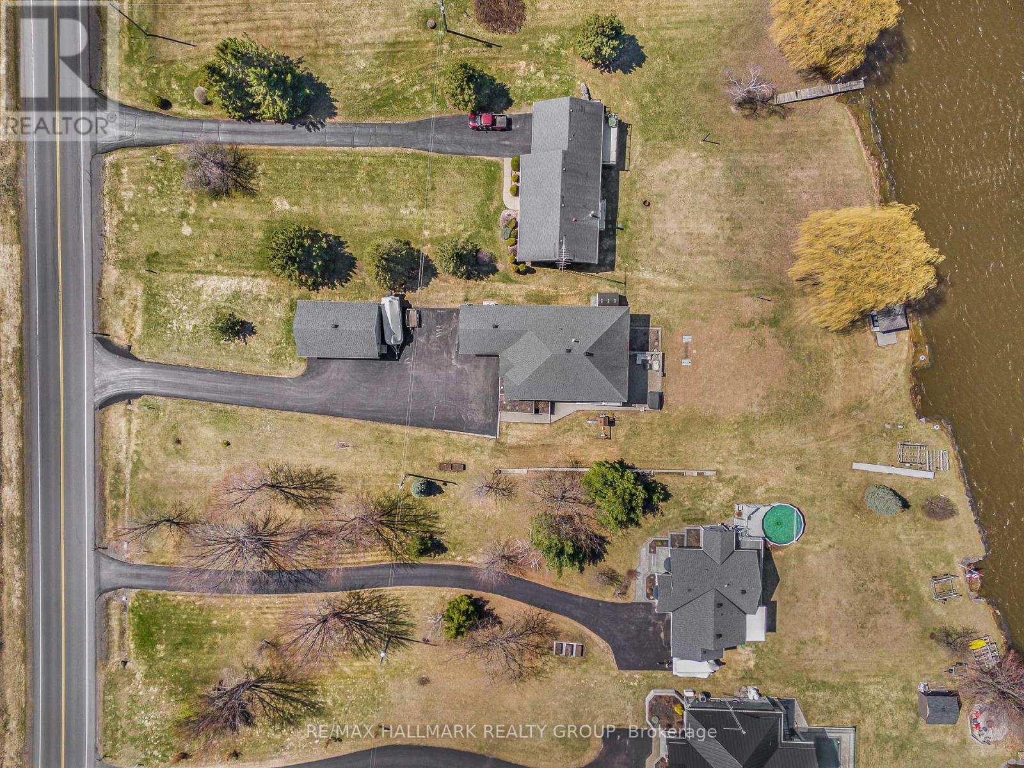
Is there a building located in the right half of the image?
Yes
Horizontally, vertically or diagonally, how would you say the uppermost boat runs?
vertically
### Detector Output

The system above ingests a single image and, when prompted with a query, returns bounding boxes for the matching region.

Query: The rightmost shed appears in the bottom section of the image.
[919,689,960,724]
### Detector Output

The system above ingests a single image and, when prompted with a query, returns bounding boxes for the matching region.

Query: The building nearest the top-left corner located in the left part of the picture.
[293,300,382,359]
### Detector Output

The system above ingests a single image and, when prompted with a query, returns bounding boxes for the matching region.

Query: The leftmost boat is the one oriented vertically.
[382,293,403,359]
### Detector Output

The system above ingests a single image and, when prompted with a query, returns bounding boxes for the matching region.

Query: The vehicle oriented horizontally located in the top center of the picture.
[468,111,509,129]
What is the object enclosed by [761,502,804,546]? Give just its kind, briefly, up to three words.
swimming pool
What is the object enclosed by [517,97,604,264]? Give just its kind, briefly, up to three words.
house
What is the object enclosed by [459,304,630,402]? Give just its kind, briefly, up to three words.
house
